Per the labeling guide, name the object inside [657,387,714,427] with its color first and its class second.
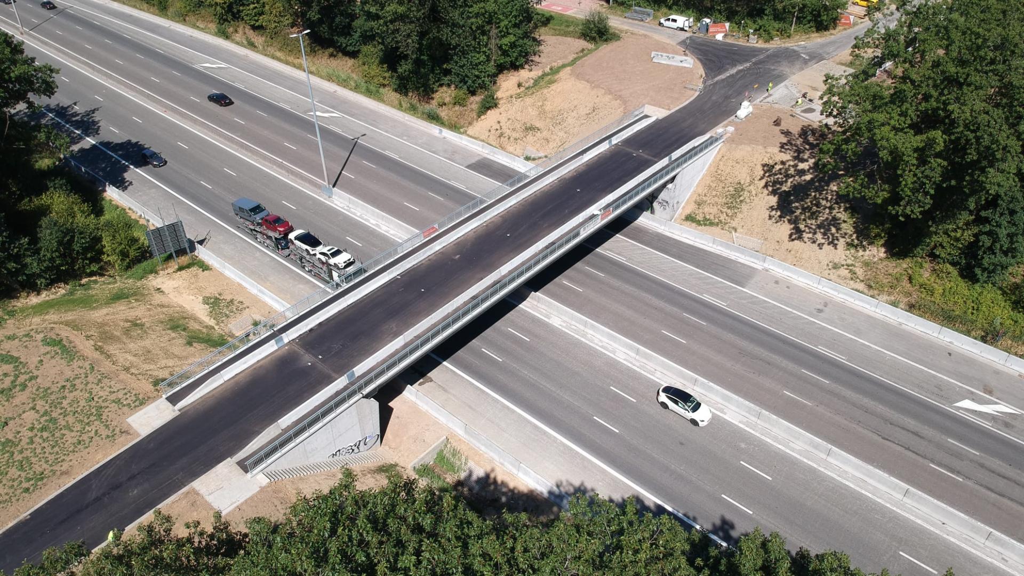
white car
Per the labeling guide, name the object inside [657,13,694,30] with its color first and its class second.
white vehicle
